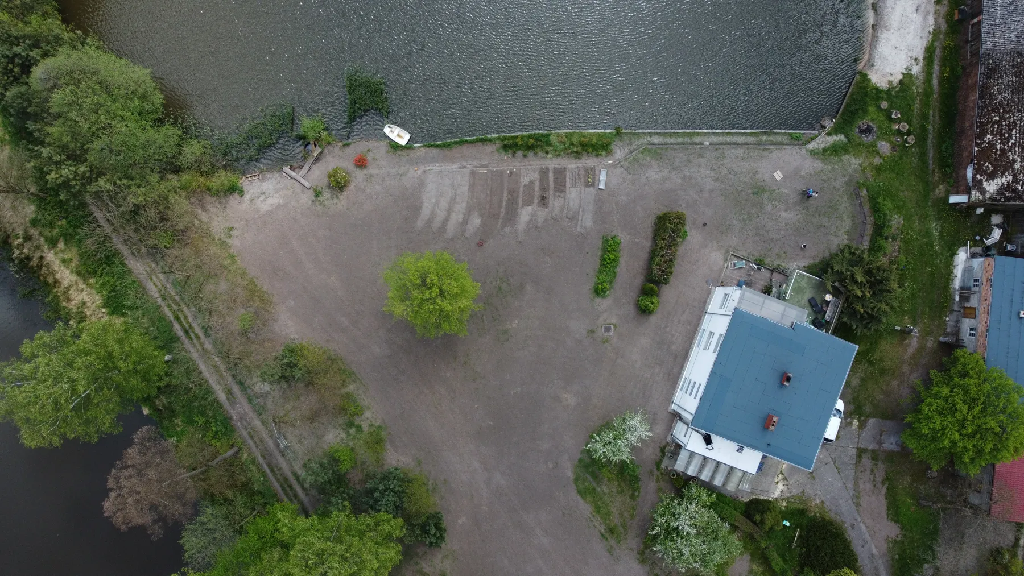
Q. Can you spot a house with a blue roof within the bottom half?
Yes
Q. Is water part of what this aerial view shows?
Yes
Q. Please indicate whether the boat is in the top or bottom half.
top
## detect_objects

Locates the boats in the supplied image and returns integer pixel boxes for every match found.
[384,124,412,147]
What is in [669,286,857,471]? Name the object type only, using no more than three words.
house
